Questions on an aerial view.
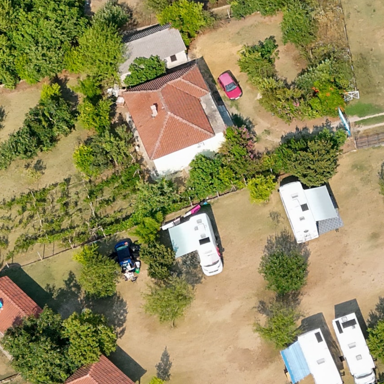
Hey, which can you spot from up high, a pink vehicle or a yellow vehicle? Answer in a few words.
pink vehicle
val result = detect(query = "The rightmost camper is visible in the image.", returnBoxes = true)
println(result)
[332,313,379,384]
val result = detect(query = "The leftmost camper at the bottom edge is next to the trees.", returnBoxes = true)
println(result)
[282,329,346,384]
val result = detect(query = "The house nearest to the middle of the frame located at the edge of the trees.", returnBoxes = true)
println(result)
[122,63,227,173]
